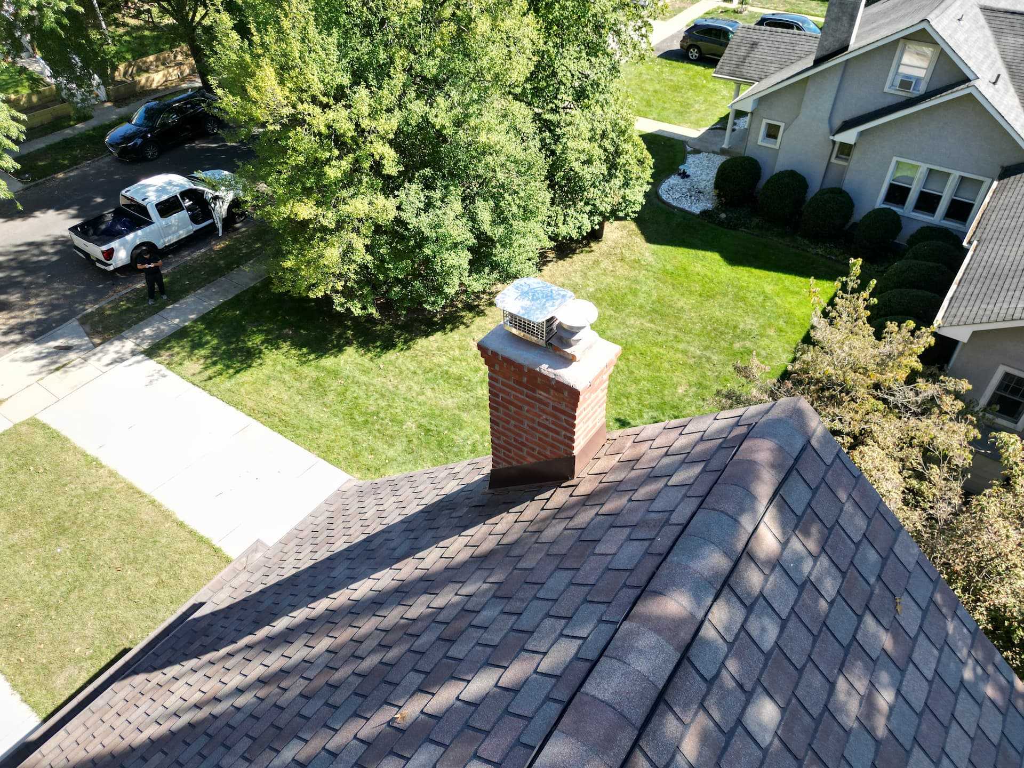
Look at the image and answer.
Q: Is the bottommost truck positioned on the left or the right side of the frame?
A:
left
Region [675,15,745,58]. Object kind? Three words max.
car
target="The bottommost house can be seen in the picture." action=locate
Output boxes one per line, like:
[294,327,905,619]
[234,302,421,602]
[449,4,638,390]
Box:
[0,278,1024,768]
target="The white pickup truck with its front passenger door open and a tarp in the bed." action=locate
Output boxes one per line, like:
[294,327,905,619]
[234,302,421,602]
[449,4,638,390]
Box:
[58,167,254,271]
